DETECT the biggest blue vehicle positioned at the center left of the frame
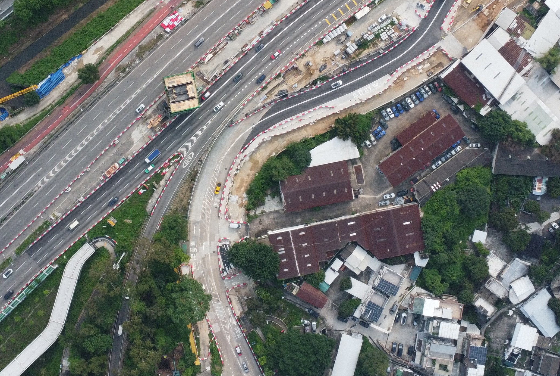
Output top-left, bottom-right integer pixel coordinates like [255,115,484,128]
[144,149,160,164]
